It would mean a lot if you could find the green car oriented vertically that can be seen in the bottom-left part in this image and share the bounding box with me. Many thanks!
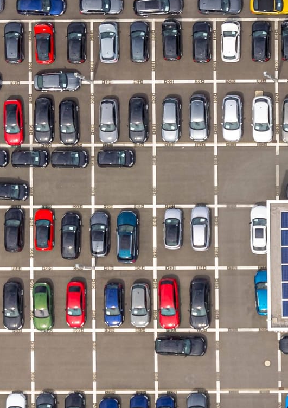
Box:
[31,283,54,331]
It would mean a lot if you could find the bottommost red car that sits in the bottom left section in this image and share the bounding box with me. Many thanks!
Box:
[64,281,87,328]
